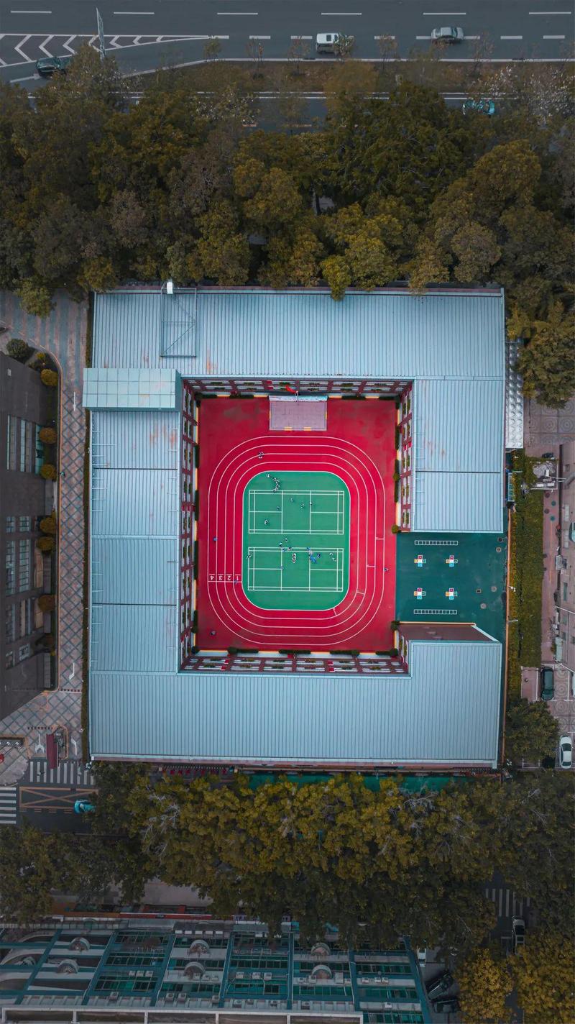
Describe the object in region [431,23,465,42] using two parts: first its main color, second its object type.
gray car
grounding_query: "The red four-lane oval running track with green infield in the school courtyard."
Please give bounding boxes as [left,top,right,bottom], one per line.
[196,394,397,649]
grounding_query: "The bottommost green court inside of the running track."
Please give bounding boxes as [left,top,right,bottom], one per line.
[247,547,344,592]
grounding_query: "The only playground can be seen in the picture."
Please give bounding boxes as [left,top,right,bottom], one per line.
[397,439,512,640]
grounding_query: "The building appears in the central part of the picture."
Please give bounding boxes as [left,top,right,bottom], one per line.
[82,287,506,769]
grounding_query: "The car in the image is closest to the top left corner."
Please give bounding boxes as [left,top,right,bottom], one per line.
[33,55,69,76]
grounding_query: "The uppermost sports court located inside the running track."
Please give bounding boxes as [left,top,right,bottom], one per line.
[248,490,345,535]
